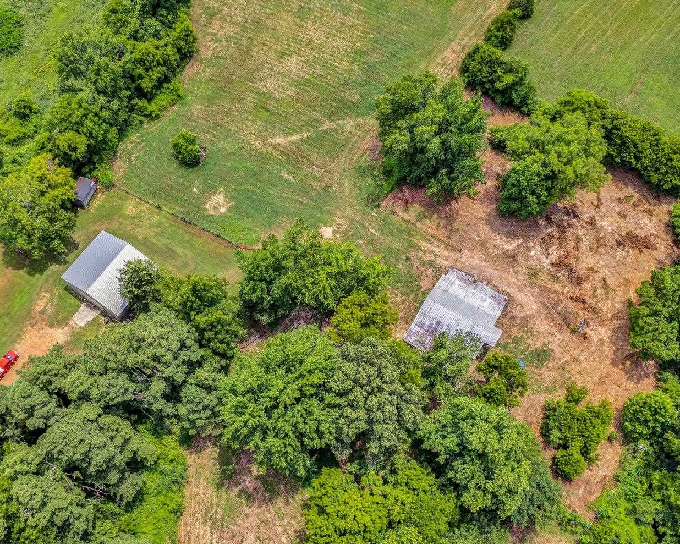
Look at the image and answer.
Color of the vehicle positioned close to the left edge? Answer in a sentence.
The vehicle positioned close to the left edge is red.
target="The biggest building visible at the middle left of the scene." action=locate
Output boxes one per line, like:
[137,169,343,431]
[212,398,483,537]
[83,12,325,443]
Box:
[61,229,161,314]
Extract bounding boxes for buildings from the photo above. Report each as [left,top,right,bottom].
[67,174,95,207]
[61,229,161,314]
[405,269,508,362]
